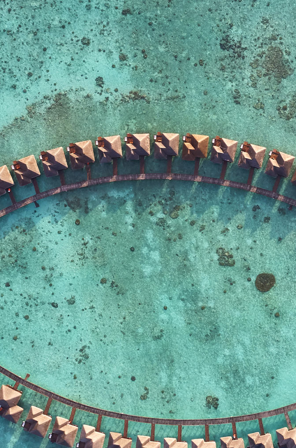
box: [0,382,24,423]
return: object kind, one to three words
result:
house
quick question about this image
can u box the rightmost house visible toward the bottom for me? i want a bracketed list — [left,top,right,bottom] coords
[274,412,296,448]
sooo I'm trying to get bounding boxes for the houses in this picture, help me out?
[107,420,131,448]
[48,407,79,448]
[21,397,53,438]
[123,132,150,173]
[0,165,16,203]
[65,140,95,179]
[164,425,187,448]
[76,415,106,448]
[236,139,266,184]
[208,134,238,179]
[191,426,216,448]
[274,412,296,448]
[136,424,160,448]
[182,131,209,175]
[94,135,122,174]
[10,155,41,193]
[263,148,295,192]
[152,131,179,173]
[38,147,68,185]
[246,419,273,448]
[0,382,24,423]
[218,423,244,448]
